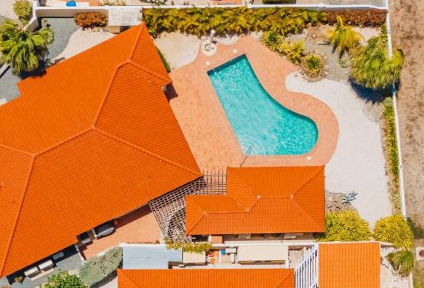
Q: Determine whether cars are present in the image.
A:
No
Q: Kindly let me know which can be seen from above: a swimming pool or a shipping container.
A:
swimming pool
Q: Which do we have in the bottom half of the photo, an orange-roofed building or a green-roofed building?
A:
orange-roofed building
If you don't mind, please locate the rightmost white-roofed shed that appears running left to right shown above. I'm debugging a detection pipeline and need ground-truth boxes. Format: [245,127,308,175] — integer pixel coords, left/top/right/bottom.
[237,246,287,264]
